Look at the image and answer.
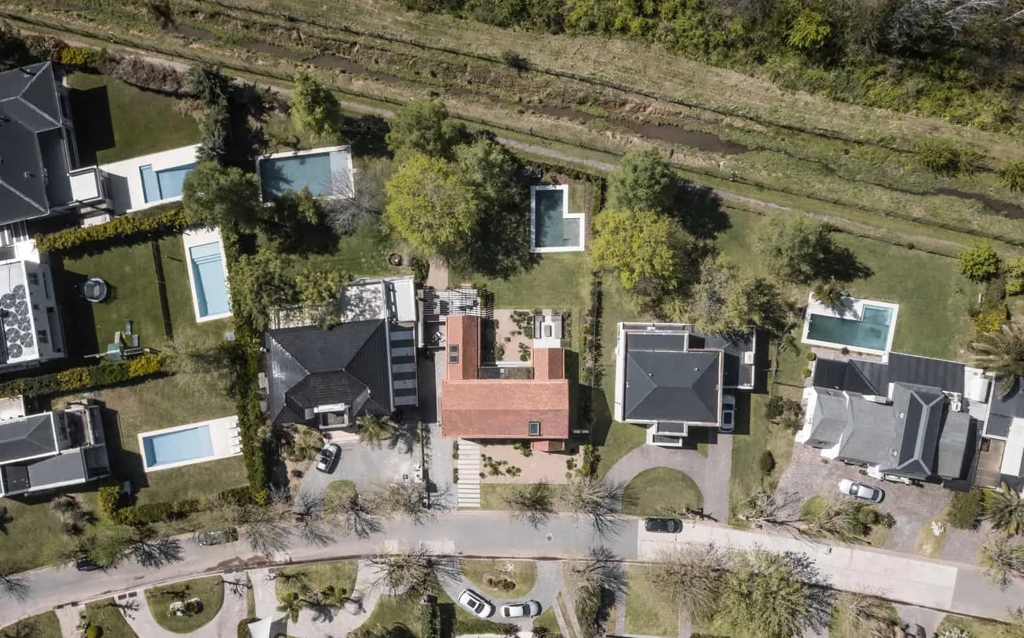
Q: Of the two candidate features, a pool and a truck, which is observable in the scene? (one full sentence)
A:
I can see a pool in this picture.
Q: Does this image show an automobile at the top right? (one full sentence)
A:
No, I see no automobile at the top right.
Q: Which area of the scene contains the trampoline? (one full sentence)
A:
The trampoline sits in the left section of the image.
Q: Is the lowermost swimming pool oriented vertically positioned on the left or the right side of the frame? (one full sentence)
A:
It is on the left.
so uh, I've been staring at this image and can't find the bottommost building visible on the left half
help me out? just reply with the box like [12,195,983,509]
[249,608,293,638]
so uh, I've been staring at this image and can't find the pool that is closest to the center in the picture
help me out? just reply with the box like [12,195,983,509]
[531,185,585,253]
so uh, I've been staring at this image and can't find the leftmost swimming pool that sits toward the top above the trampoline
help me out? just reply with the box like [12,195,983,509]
[99,144,206,217]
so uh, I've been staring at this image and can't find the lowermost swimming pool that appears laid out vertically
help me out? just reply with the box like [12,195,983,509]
[182,226,232,322]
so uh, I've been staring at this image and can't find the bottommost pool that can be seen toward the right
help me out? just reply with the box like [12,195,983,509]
[801,292,899,355]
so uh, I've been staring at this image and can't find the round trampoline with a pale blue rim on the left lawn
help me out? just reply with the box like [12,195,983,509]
[83,278,111,301]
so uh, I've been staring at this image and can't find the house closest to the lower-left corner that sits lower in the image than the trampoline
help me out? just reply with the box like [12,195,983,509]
[0,394,112,497]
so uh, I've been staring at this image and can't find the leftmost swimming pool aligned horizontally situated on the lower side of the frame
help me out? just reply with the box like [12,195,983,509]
[138,415,244,472]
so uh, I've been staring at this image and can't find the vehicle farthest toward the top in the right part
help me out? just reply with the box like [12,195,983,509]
[719,396,737,433]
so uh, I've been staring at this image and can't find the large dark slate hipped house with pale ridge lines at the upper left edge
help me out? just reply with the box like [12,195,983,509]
[0,61,117,231]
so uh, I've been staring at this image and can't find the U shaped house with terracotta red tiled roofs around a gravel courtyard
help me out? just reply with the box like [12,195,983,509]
[442,315,569,450]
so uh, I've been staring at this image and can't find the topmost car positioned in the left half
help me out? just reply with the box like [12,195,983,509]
[316,441,341,473]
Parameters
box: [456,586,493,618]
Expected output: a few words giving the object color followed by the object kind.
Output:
white car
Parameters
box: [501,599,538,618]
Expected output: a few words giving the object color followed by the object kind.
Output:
white car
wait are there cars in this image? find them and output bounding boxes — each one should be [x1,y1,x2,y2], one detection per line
[456,586,493,618]
[902,620,922,638]
[838,478,883,502]
[719,396,737,433]
[644,517,681,534]
[75,552,109,572]
[316,441,341,473]
[501,599,538,618]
